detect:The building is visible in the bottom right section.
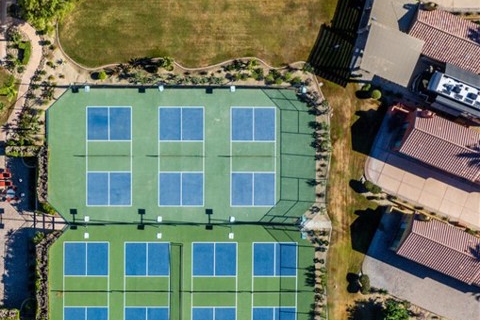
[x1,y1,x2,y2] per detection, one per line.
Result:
[388,207,480,286]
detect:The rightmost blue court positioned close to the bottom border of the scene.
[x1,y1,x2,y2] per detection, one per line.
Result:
[252,241,302,320]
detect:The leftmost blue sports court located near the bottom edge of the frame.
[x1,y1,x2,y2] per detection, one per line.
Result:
[62,241,112,320]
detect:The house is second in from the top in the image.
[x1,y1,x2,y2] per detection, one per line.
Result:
[391,104,480,186]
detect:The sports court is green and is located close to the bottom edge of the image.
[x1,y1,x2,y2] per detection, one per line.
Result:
[48,225,315,320]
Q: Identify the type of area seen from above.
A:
sports ground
